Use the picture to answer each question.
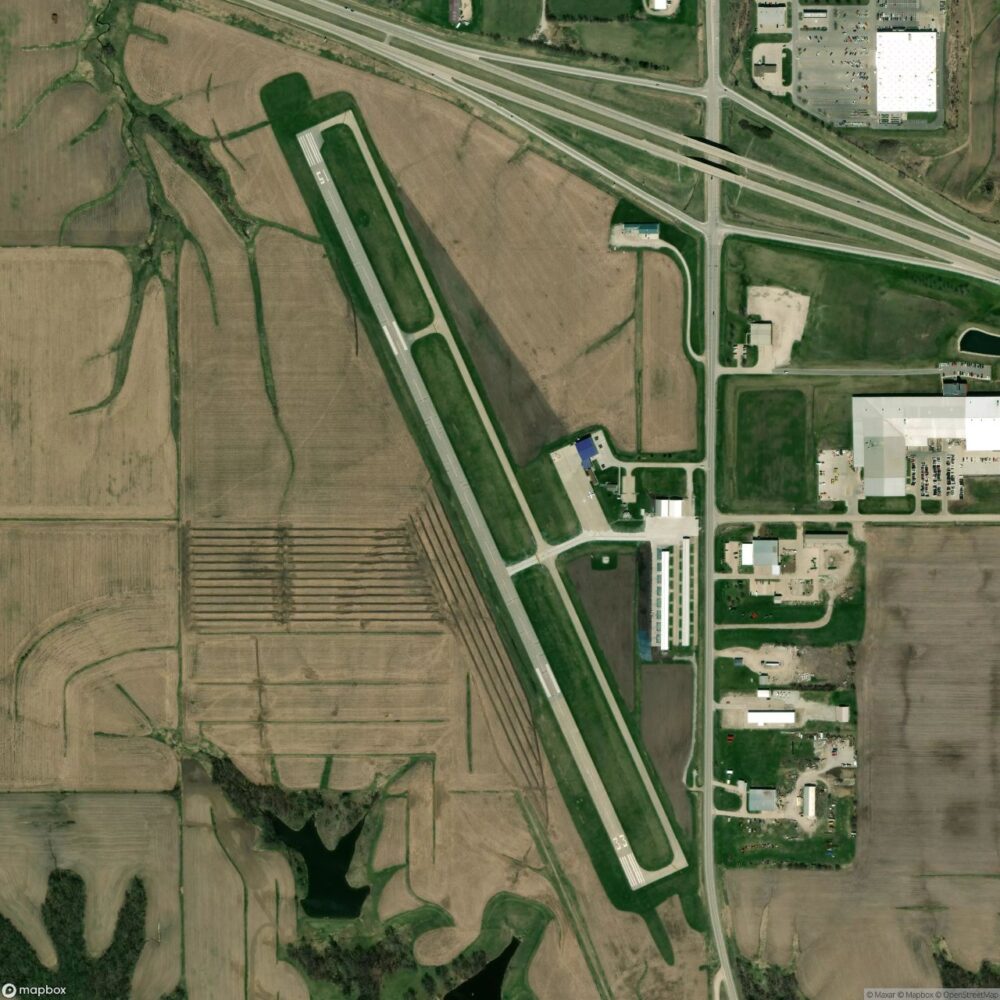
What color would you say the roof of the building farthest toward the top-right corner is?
white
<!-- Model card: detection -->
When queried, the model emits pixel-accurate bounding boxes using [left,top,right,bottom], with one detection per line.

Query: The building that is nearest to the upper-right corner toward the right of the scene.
[876,31,937,111]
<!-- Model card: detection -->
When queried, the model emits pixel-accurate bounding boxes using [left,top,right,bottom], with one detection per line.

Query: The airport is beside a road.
[296,110,698,890]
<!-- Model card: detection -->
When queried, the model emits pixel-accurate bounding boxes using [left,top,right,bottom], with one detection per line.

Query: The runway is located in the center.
[296,129,646,890]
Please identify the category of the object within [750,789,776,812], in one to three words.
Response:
barn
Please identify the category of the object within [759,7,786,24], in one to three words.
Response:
building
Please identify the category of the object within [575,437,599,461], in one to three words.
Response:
hangar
